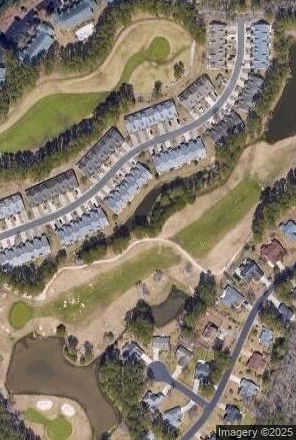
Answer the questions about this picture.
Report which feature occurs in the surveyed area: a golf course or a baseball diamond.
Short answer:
golf course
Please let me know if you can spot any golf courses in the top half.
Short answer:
Yes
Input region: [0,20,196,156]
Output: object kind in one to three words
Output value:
golf course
